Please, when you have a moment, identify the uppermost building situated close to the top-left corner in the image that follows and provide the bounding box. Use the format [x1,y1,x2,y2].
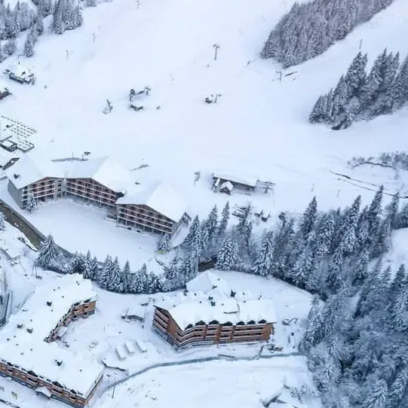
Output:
[9,60,41,84]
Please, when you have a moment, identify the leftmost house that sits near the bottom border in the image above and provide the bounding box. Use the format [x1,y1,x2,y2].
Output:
[0,272,106,408]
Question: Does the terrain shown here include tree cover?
Yes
